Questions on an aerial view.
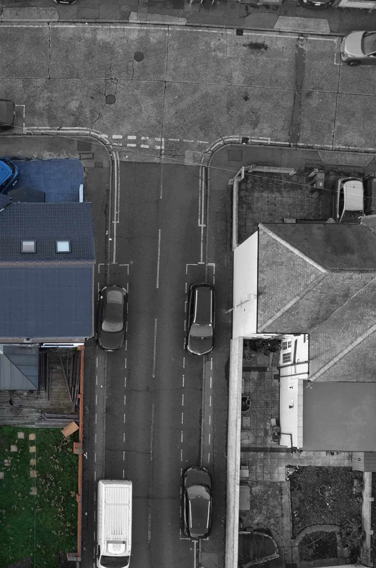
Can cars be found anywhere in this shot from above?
Yes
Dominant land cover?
paved ground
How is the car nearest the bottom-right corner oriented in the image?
vertically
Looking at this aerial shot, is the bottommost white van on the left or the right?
left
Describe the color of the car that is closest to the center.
black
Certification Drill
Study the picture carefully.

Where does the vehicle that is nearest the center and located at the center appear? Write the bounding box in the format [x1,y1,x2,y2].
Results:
[182,282,219,358]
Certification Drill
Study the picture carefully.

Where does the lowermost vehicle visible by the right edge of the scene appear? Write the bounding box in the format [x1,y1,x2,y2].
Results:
[331,173,367,223]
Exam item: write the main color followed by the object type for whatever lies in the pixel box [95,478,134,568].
white van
